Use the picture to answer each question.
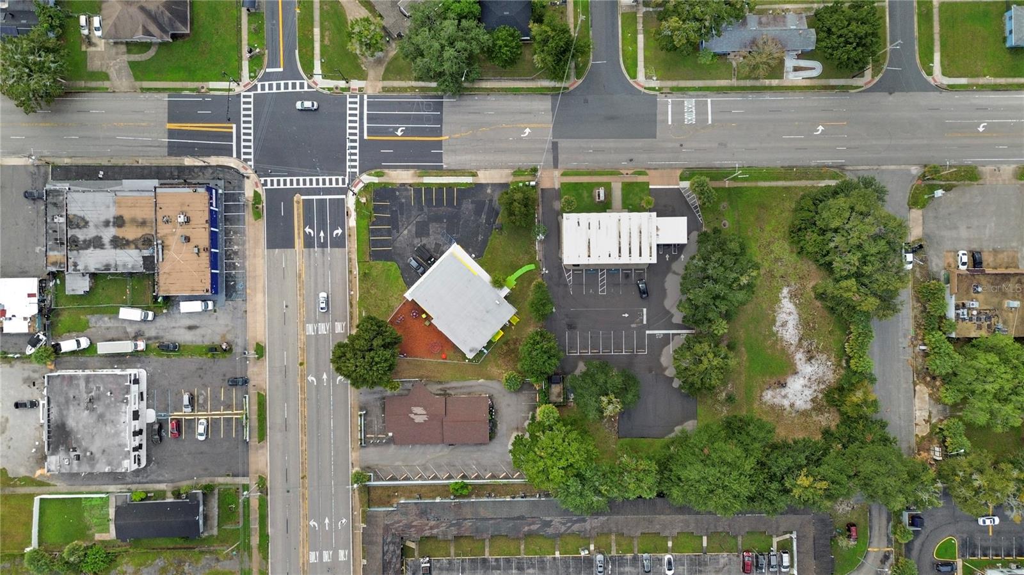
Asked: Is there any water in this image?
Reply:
No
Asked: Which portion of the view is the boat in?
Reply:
left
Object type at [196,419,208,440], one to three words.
vehicle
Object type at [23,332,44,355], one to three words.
boat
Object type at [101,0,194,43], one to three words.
house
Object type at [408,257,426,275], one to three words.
car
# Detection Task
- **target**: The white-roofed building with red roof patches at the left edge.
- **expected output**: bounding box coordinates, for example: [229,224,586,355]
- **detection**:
[0,277,44,333]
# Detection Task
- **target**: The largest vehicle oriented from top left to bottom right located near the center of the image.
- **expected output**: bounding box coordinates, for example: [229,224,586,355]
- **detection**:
[414,241,439,265]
